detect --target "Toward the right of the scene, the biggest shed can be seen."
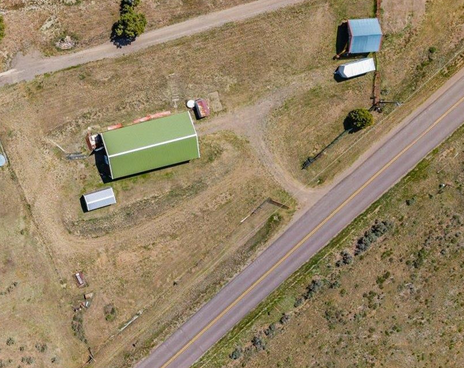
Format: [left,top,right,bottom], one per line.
[341,18,383,53]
